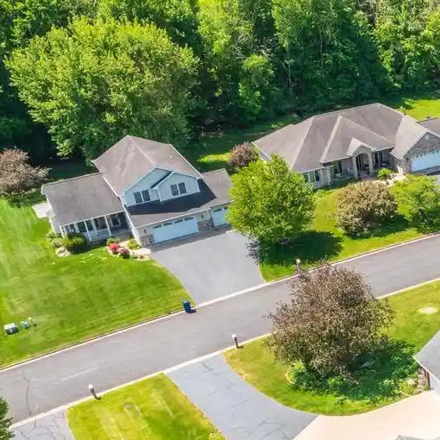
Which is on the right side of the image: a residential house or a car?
residential house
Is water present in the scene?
No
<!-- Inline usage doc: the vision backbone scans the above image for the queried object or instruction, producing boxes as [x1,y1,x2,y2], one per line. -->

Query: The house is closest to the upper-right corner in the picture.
[252,104,440,187]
